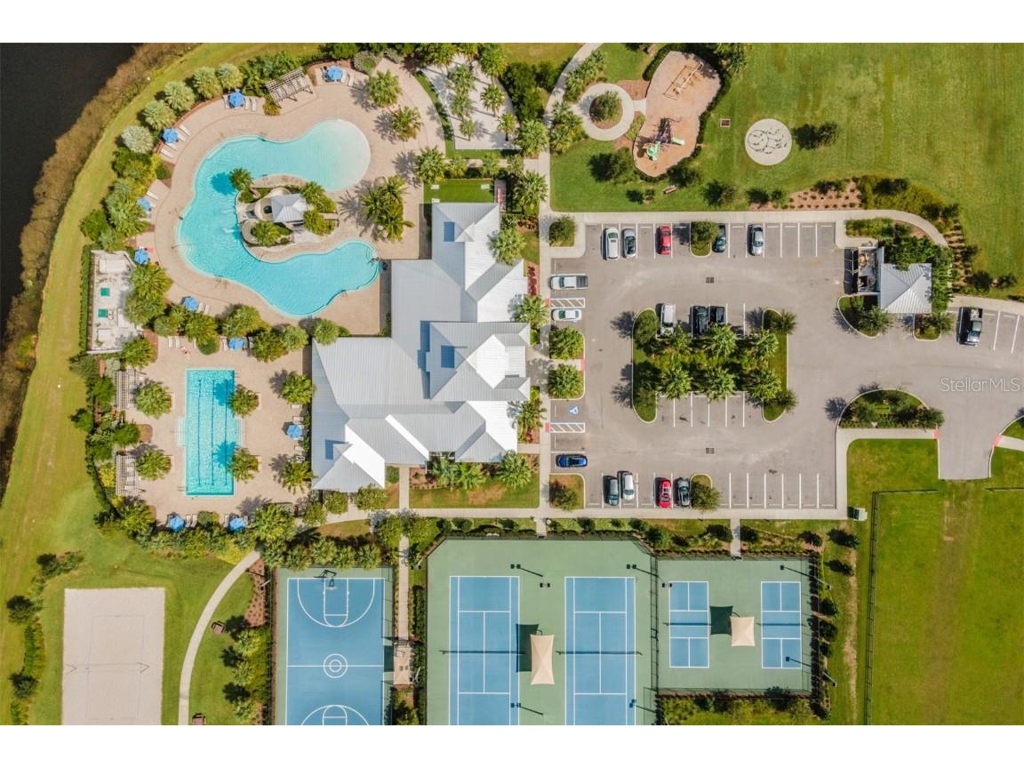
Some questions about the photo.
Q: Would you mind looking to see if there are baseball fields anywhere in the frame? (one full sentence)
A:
No, I can see no baseball field in this picture.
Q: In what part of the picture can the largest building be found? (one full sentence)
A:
You can find the largest building in the center area of the picture.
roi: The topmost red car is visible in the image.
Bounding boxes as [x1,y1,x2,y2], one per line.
[658,226,672,256]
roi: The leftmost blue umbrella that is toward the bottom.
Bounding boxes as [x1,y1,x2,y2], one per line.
[168,515,184,531]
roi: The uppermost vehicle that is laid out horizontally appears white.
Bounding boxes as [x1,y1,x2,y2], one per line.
[549,274,588,289]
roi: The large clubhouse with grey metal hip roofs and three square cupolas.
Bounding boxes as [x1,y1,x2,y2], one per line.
[312,204,530,492]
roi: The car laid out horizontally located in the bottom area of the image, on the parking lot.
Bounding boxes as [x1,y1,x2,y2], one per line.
[555,454,588,469]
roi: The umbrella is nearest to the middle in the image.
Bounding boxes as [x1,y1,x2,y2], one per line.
[287,423,302,438]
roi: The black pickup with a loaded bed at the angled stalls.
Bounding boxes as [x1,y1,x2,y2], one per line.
[959,307,980,346]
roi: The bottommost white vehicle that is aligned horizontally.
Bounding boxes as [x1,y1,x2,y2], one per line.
[551,308,581,322]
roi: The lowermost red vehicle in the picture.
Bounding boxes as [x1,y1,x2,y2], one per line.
[658,478,672,508]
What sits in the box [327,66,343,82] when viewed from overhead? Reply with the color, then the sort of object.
blue umbrella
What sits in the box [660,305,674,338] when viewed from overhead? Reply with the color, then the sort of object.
white car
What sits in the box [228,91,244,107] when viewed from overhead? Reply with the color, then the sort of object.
blue umbrella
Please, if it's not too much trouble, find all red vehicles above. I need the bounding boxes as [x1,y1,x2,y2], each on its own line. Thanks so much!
[658,478,672,508]
[658,226,672,256]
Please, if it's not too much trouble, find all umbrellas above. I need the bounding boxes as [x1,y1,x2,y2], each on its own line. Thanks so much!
[230,516,245,532]
[168,515,184,531]
[327,66,343,82]
[287,423,302,438]
[134,249,151,264]
[228,91,244,107]
[183,296,199,311]
[135,198,152,213]
[229,336,245,351]
[163,128,180,144]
